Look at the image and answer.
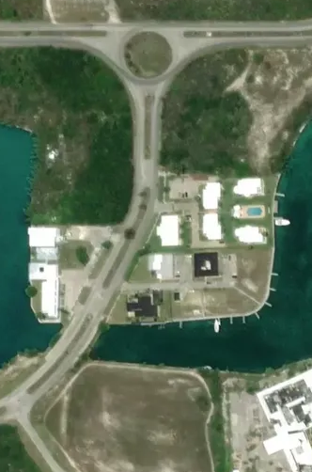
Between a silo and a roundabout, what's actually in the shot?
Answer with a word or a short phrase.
roundabout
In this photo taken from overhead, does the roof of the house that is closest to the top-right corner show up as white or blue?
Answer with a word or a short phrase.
white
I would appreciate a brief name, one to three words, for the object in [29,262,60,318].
building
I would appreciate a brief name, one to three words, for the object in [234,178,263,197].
house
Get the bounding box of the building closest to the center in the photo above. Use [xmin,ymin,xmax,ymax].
[157,215,180,246]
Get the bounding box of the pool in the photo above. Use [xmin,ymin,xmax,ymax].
[240,205,265,217]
